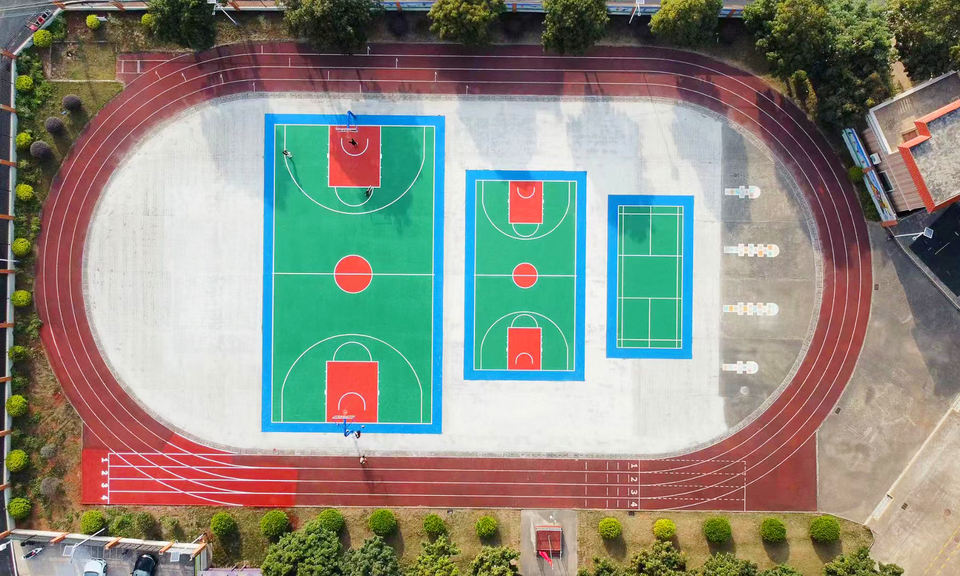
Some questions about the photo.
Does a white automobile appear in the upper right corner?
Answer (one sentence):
No, the scene shows no white automobile in the upper right corner.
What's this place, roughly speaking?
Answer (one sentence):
The area seen from above is a sports ground.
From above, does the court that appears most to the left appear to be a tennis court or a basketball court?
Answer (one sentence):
Looking closely, the court that appears most to the left is a basketball court.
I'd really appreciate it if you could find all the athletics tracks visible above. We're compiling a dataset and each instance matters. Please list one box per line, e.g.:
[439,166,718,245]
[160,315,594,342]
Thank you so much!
[31,40,874,513]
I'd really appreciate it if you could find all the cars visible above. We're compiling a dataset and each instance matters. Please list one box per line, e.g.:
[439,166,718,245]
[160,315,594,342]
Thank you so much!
[81,555,110,576]
[132,552,160,576]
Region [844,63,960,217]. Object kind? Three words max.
building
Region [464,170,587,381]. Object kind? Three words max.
basketball court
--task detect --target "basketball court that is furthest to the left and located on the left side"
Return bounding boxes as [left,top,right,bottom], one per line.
[262,114,445,434]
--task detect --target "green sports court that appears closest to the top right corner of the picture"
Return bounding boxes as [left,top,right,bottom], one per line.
[607,195,694,358]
